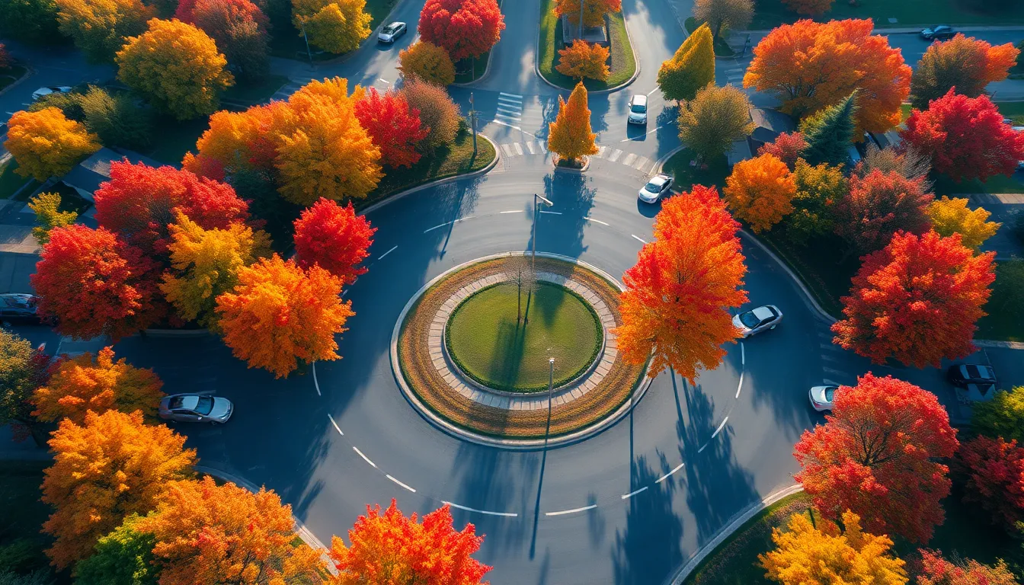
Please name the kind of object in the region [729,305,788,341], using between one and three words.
car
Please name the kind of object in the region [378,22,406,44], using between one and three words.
car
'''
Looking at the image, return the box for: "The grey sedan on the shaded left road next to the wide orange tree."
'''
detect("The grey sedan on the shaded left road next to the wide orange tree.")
[156,392,236,427]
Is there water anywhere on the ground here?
No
